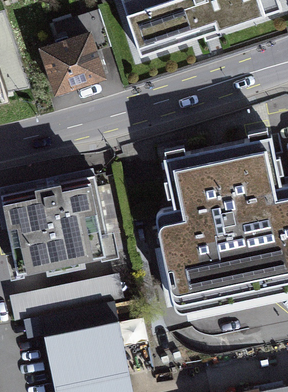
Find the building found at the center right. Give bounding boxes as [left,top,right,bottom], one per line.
[156,130,288,322]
